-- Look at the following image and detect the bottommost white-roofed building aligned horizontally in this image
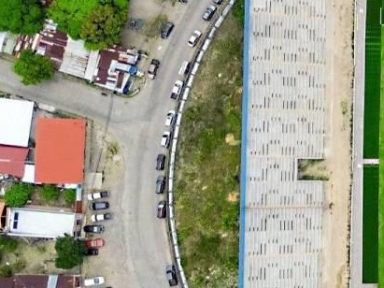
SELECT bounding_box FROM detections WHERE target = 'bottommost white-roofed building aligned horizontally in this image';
[5,209,83,238]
